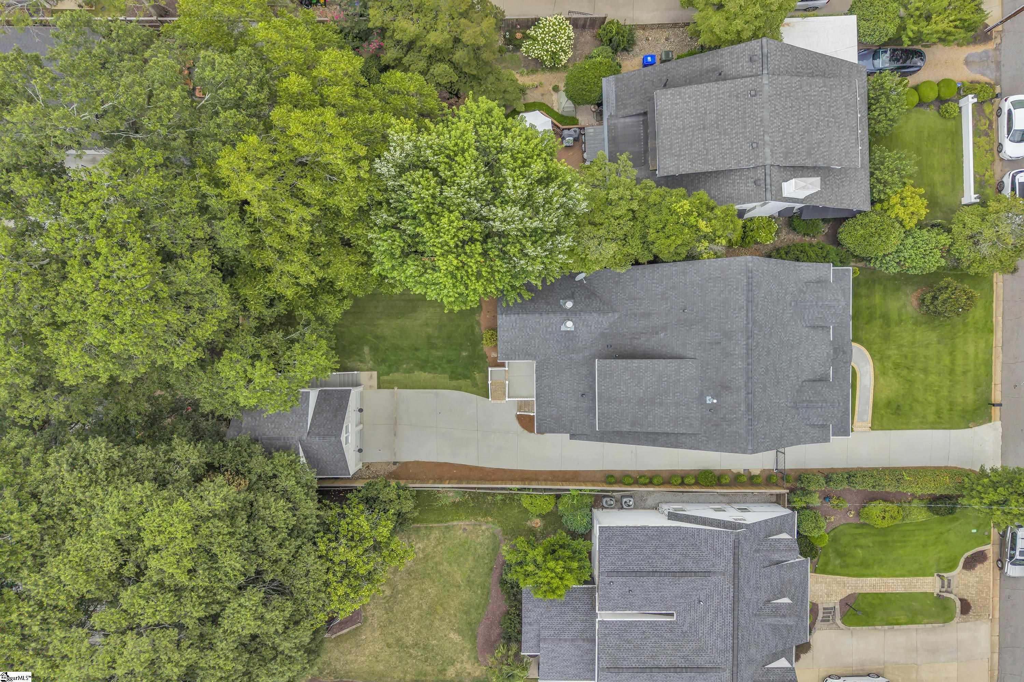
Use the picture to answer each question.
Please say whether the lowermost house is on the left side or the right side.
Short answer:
right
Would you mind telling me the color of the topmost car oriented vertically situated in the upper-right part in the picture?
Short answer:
white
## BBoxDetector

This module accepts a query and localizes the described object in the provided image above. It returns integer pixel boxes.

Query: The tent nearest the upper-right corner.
[558,90,578,118]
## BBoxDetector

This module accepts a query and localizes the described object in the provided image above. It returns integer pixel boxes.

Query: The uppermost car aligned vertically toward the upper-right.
[996,93,1024,160]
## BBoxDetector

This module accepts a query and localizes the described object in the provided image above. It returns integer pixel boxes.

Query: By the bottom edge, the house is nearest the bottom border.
[521,504,811,682]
